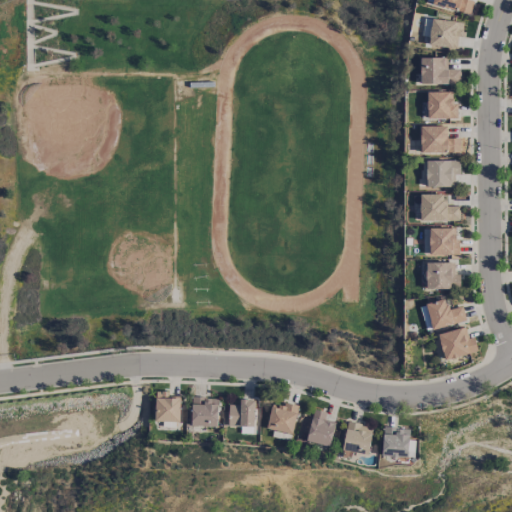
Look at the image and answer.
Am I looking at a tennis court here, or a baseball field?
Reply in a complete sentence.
Visible in the photo is a baseball field.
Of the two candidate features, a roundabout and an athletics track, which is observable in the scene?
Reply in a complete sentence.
I can see an athletics track in this picture.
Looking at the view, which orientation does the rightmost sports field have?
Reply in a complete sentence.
The rightmost sports field is laid out vertically.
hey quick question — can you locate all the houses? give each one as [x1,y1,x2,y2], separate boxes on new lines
[344,420,374,453]
[306,403,338,447]
[422,194,462,221]
[428,262,462,289]
[428,92,460,118]
[428,160,462,187]
[425,0,475,17]
[425,18,466,48]
[424,228,460,255]
[384,427,416,458]
[156,392,182,429]
[438,330,481,362]
[192,398,220,432]
[412,125,450,152]
[422,57,462,84]
[268,401,300,440]
[230,400,257,434]
[422,300,471,333]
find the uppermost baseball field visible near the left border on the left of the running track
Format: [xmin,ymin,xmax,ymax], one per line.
[17,78,174,206]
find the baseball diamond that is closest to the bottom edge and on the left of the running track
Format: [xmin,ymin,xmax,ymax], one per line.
[40,206,175,316]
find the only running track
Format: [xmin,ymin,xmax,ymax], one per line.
[214,14,368,312]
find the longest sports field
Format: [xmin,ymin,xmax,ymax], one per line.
[230,32,350,296]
